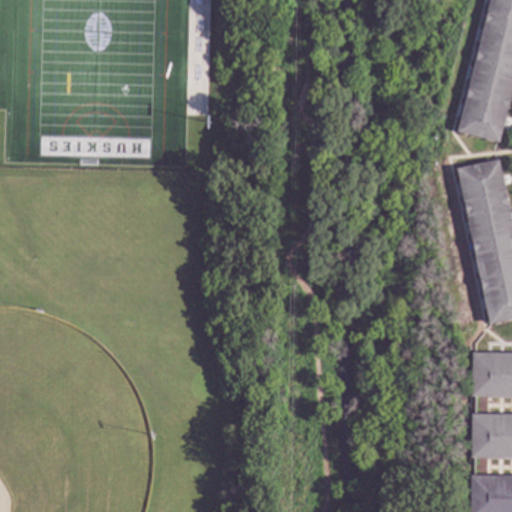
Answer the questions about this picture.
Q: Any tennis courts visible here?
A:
No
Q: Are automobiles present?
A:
No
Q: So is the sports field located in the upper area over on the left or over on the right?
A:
left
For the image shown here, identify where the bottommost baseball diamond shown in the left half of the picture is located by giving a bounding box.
[0,304,154,512]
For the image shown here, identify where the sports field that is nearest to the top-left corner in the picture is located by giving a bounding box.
[0,0,189,166]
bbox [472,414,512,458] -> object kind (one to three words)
building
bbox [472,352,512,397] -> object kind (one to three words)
building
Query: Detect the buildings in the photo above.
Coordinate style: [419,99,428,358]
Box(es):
[458,159,512,326]
[458,0,512,142]
[472,474,512,512]
[472,352,512,397]
[472,414,512,458]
